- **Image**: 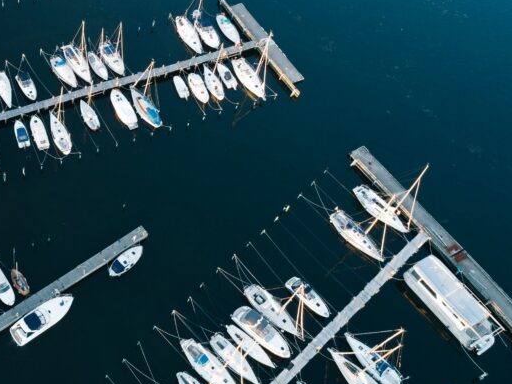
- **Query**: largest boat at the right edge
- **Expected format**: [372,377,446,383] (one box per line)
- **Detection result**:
[402,238,509,372]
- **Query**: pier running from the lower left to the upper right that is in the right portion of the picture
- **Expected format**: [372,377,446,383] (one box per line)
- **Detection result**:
[268,230,431,384]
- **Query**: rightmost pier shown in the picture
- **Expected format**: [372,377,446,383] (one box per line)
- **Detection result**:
[351,146,512,328]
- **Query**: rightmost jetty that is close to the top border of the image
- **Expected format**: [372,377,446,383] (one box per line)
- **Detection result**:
[229,3,304,84]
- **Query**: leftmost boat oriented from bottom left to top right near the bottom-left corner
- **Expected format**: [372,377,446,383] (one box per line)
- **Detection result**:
[2,290,74,351]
